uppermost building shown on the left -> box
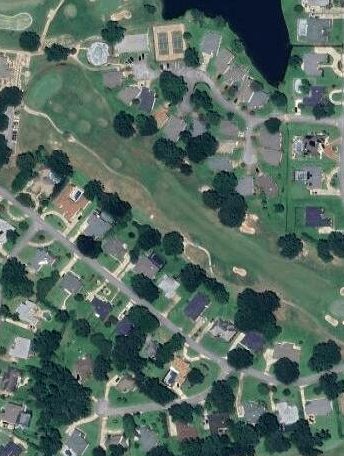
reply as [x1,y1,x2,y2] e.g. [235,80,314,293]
[118,34,151,53]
